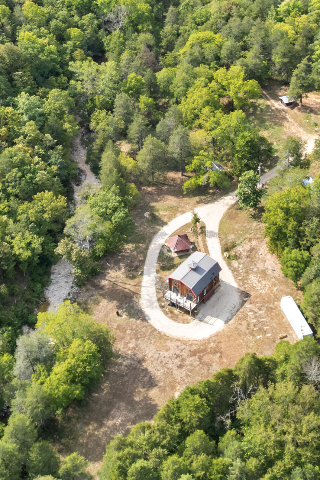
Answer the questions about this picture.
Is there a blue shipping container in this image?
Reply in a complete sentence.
No, I can't see a single blue shipping container in this photo.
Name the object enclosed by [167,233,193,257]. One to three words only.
gazebo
